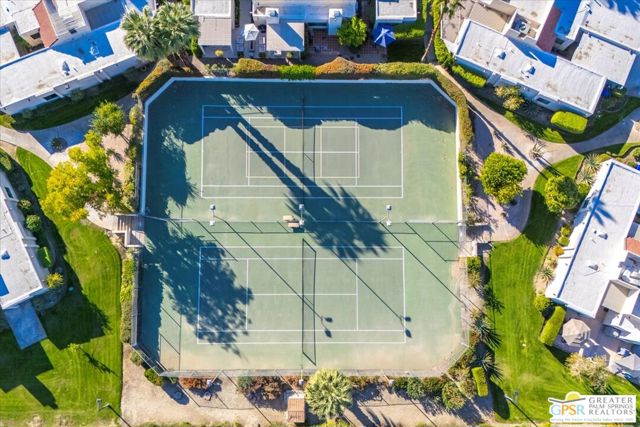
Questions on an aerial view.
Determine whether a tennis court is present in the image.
Yes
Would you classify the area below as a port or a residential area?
residential area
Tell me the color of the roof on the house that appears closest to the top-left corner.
white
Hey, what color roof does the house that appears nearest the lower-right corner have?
white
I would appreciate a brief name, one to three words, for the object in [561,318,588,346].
umbrella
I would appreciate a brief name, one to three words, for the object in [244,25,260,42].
umbrella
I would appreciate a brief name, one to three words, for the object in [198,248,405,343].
tennis court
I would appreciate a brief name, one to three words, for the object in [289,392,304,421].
shed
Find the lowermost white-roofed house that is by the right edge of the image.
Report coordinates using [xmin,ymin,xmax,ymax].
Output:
[547,161,640,339]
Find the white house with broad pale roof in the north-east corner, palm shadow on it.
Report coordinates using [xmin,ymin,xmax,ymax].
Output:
[555,0,640,93]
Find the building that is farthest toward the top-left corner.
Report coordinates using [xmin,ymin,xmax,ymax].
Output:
[0,0,164,118]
